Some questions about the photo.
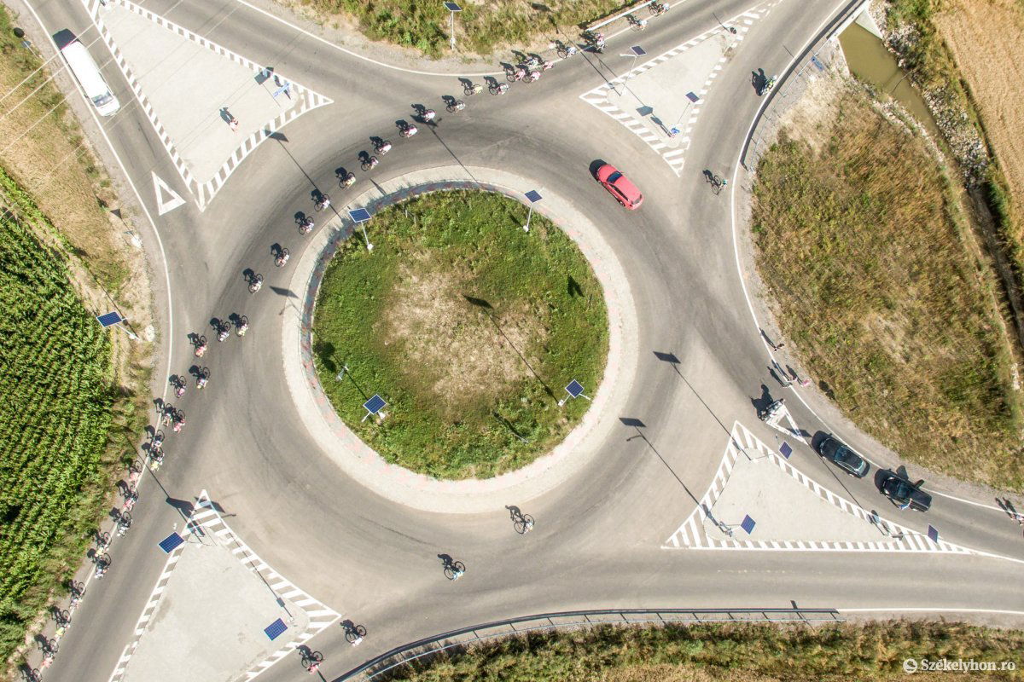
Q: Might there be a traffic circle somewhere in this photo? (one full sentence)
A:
Yes, the frame does contain a traffic circle.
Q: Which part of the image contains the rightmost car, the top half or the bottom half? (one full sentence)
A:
It is in the bottom half that the rightmost car appears.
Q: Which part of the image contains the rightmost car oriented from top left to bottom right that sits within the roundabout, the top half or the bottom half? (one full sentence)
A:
The rightmost car oriented from top left to bottom right that sits within the roundabout is in the top half of the image.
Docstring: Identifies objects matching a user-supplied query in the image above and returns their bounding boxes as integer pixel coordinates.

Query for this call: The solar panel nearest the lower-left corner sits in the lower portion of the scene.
[156,529,187,555]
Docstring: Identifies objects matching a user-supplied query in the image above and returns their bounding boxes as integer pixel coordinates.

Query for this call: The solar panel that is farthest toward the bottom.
[257,614,287,642]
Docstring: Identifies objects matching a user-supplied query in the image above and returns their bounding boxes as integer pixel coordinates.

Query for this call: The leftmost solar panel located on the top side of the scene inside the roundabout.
[349,207,374,222]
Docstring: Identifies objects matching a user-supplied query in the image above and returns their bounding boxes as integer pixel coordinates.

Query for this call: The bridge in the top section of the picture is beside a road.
[827,0,882,75]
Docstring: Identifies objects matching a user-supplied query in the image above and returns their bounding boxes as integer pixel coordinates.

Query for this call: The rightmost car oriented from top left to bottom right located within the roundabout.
[595,168,646,213]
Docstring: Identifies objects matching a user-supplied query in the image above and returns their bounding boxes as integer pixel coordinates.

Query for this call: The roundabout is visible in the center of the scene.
[177,81,734,621]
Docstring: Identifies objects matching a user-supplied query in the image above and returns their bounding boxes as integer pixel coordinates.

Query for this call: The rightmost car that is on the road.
[880,478,935,516]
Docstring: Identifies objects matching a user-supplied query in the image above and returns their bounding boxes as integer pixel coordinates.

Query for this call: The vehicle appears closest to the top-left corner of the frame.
[63,41,124,120]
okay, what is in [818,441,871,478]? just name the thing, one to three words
car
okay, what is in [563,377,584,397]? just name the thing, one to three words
solar panel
